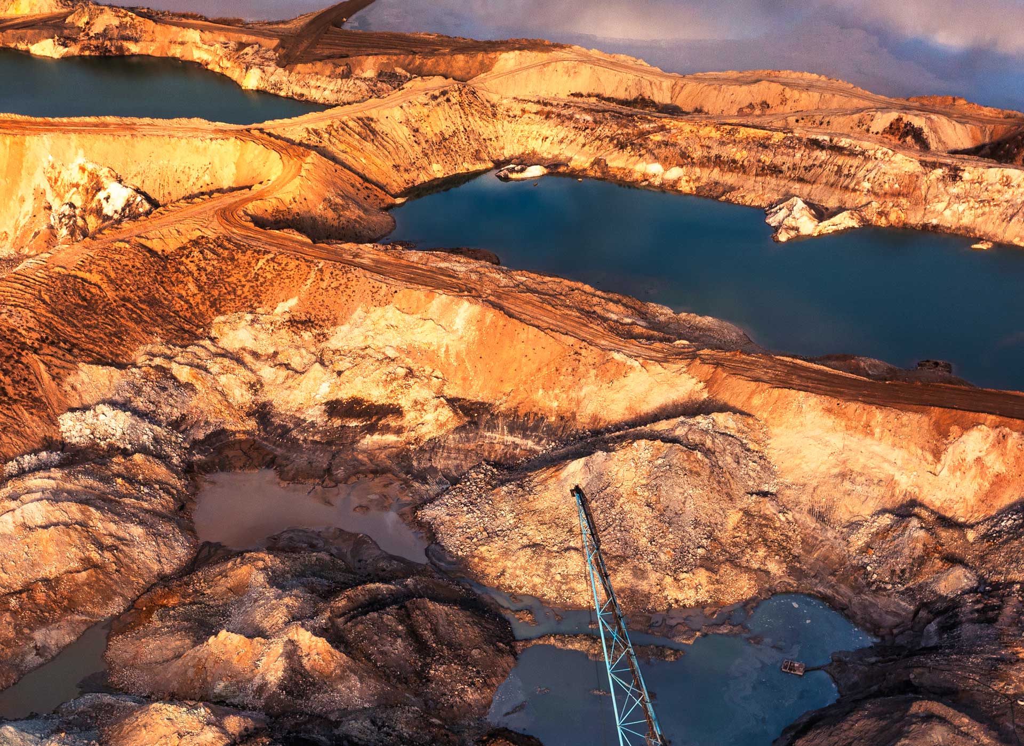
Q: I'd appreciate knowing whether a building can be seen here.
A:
No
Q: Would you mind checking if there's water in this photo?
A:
Yes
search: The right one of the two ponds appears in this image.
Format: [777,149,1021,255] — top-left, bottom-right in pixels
[468,579,883,746]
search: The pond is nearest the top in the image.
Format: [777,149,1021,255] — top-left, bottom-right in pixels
[189,468,437,564]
